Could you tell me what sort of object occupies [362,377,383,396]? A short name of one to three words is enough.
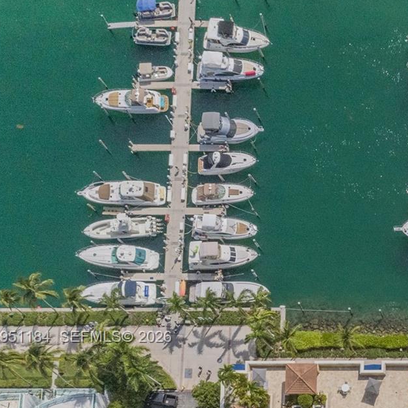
umbrella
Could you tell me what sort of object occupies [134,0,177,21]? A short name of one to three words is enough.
boat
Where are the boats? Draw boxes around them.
[193,212,258,241]
[81,218,162,243]
[89,90,171,117]
[190,242,258,271]
[130,26,174,46]
[133,65,174,81]
[193,183,257,206]
[184,277,189,298]
[190,280,270,308]
[198,54,264,83]
[75,182,167,208]
[199,116,264,145]
[134,0,177,21]
[198,152,259,176]
[205,24,270,55]
[73,244,161,271]
[81,282,157,308]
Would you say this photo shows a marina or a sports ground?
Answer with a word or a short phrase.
marina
